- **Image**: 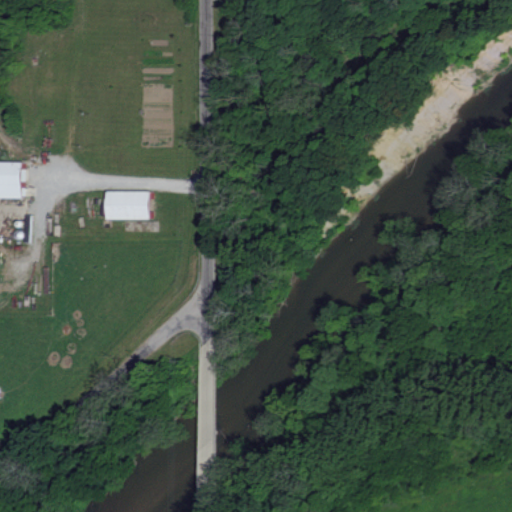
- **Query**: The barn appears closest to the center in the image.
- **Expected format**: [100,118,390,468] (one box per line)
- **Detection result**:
[104,192,154,220]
